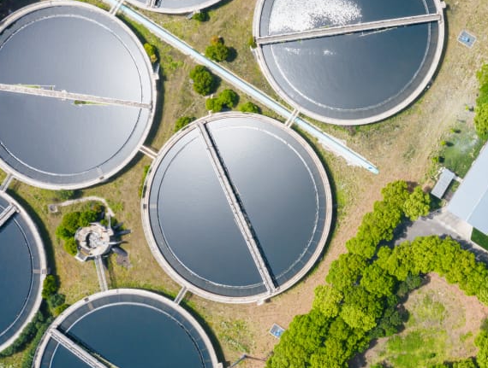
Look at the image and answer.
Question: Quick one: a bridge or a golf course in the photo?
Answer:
bridge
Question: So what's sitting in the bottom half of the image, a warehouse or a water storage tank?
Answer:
water storage tank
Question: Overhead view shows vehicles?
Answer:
No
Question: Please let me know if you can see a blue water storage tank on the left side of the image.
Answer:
Yes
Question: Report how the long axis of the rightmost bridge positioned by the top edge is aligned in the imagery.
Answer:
from left to right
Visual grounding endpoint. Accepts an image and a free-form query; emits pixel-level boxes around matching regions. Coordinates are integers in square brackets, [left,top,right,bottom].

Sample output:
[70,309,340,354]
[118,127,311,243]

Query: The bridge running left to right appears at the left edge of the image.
[0,82,158,112]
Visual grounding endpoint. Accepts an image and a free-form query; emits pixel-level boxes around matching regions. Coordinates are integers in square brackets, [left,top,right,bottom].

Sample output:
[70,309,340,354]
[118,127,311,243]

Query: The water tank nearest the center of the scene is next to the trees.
[142,110,335,306]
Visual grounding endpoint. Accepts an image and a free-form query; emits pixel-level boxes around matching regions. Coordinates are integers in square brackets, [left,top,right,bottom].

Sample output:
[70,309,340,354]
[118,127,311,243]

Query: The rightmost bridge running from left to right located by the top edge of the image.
[253,11,444,47]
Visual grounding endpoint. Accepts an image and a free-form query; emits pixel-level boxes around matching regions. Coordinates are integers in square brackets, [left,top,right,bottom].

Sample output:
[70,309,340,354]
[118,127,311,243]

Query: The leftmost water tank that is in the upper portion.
[0,0,167,190]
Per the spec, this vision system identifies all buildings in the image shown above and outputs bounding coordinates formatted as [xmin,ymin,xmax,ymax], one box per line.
[447,141,488,235]
[432,168,455,199]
